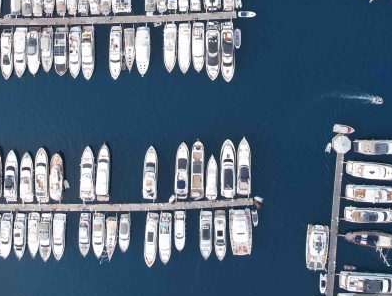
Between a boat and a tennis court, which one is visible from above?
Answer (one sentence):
Visible in the photo is a boat.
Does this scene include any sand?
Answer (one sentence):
No, the scene doesn't show any sand.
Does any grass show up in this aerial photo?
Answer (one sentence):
No, no grass is visible.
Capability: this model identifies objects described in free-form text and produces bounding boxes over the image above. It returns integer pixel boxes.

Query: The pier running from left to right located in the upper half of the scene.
[0,11,236,25]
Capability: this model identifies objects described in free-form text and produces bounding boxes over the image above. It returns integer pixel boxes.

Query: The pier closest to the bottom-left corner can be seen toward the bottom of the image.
[0,198,254,212]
